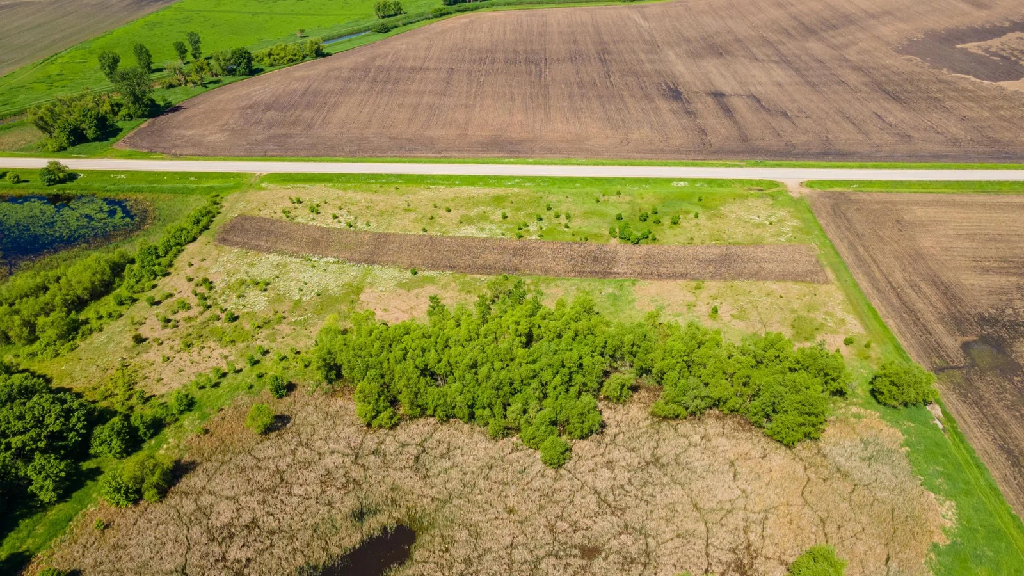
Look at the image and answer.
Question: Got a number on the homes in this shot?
none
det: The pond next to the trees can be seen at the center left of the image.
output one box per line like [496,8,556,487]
[0,193,145,274]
